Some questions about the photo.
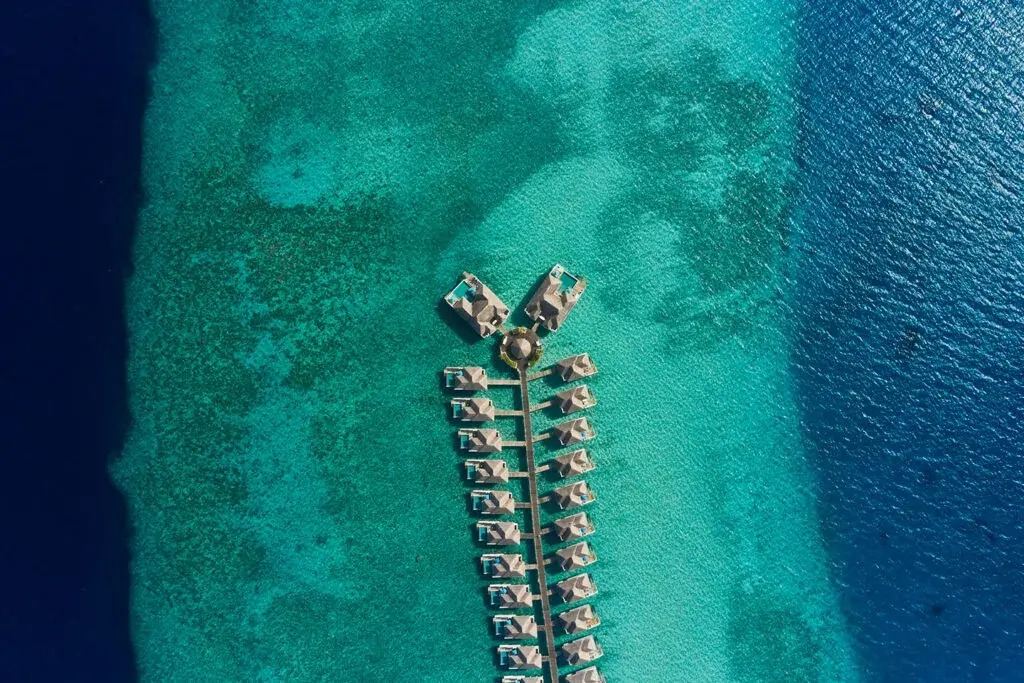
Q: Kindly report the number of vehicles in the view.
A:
zero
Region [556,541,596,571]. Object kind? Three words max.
house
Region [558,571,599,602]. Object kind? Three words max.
house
